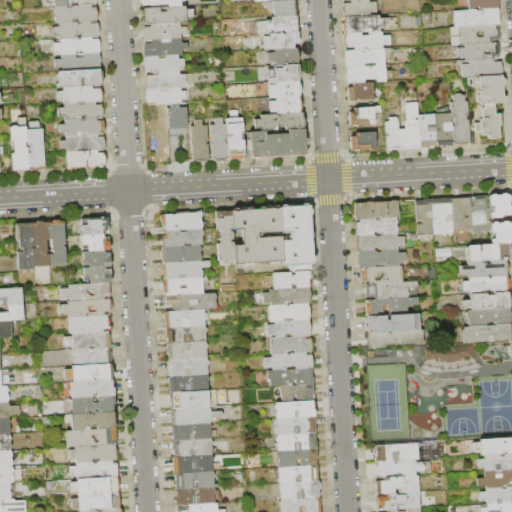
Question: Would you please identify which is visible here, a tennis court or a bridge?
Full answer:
It is a tennis court that can be seen here.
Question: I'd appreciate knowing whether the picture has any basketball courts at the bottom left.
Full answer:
No, no basketball court appears at the bottom left.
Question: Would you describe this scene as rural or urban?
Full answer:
The area is urban.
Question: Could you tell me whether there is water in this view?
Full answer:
No, water can't be seen anywhere here.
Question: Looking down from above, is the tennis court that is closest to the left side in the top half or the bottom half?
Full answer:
Seen from above, the tennis court that is closest to the left side lies in the bottom half of the view.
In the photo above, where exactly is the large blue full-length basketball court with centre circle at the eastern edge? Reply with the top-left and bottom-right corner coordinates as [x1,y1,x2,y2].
[477,374,512,436]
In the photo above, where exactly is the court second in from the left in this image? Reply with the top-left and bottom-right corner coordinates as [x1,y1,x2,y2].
[444,404,480,438]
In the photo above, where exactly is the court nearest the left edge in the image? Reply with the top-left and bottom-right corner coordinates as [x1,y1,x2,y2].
[367,363,408,441]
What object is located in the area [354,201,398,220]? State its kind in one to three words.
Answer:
house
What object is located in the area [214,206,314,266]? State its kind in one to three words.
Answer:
building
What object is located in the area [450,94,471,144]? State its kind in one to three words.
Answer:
house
